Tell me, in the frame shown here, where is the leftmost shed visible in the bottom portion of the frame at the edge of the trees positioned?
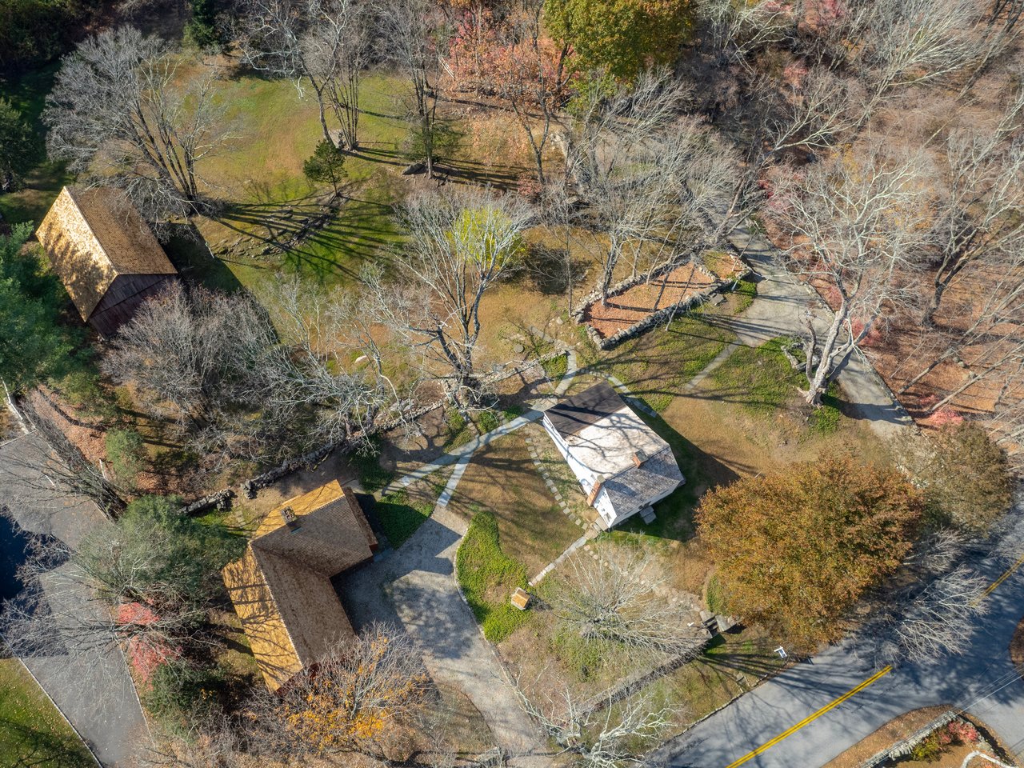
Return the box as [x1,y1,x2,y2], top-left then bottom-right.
[224,480,381,692]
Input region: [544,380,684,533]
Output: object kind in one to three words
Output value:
house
